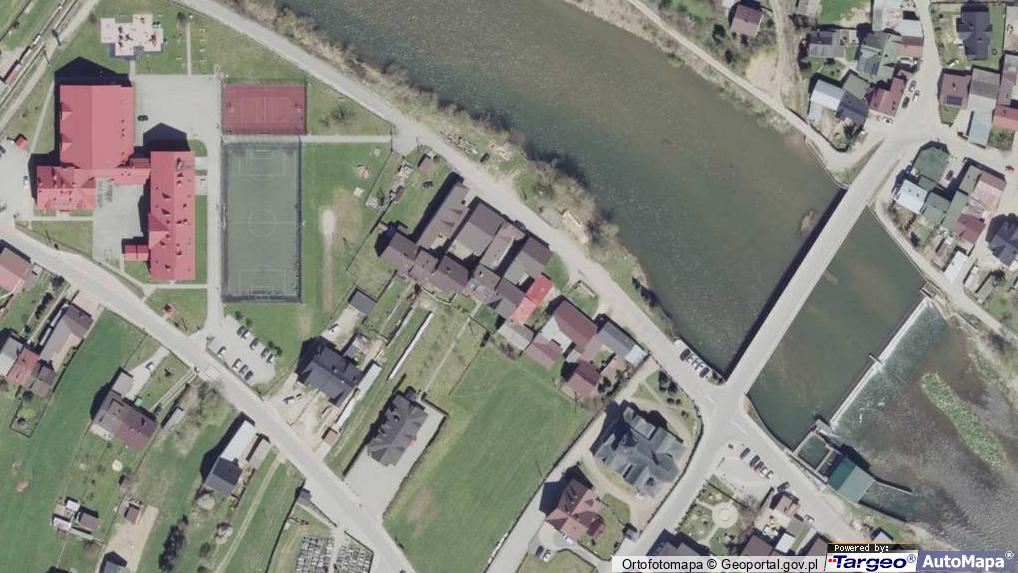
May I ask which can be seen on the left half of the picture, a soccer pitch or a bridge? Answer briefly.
soccer pitch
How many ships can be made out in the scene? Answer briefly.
zero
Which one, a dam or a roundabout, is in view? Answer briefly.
dam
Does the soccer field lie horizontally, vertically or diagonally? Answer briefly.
vertically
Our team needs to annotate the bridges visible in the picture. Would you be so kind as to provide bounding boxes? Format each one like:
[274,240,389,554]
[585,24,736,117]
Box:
[724,185,869,397]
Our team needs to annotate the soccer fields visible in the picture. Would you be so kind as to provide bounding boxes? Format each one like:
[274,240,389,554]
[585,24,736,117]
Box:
[222,142,301,303]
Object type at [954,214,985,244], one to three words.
house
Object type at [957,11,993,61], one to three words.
house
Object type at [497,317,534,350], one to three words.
shed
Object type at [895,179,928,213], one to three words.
building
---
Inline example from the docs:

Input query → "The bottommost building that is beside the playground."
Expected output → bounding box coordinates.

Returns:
[36,85,196,280]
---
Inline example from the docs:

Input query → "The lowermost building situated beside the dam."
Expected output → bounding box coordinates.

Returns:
[827,455,876,502]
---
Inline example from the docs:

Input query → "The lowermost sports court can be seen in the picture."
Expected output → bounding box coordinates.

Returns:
[222,84,306,134]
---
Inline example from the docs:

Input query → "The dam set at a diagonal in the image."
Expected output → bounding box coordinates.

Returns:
[813,285,936,440]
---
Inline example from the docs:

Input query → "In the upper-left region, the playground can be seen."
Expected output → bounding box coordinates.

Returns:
[101,14,163,60]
